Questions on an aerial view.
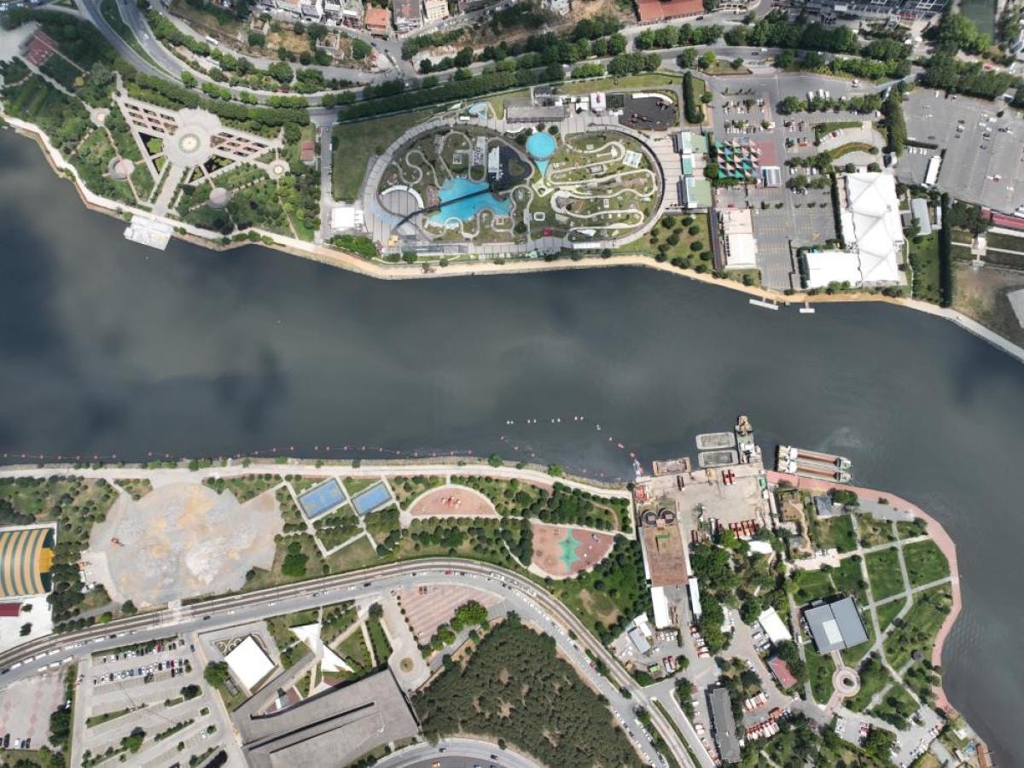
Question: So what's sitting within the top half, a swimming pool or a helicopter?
swimming pool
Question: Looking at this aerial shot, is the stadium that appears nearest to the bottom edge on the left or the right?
left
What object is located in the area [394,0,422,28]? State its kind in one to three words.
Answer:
house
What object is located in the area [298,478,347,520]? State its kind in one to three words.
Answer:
basketball court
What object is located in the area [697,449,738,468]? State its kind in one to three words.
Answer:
ship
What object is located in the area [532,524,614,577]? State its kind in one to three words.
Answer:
playground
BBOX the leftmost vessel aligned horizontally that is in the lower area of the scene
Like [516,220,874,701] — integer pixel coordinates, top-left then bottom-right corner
[652,457,691,476]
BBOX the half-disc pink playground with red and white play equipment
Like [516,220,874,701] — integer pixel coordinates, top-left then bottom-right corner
[408,484,499,516]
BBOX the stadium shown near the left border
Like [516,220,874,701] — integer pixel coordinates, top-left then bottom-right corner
[0,526,60,597]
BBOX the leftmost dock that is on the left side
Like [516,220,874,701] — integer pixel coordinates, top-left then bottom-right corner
[123,215,173,251]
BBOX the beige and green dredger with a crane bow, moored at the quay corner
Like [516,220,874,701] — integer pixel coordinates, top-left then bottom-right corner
[734,415,763,463]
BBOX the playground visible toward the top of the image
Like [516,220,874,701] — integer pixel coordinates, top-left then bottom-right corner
[618,93,676,129]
